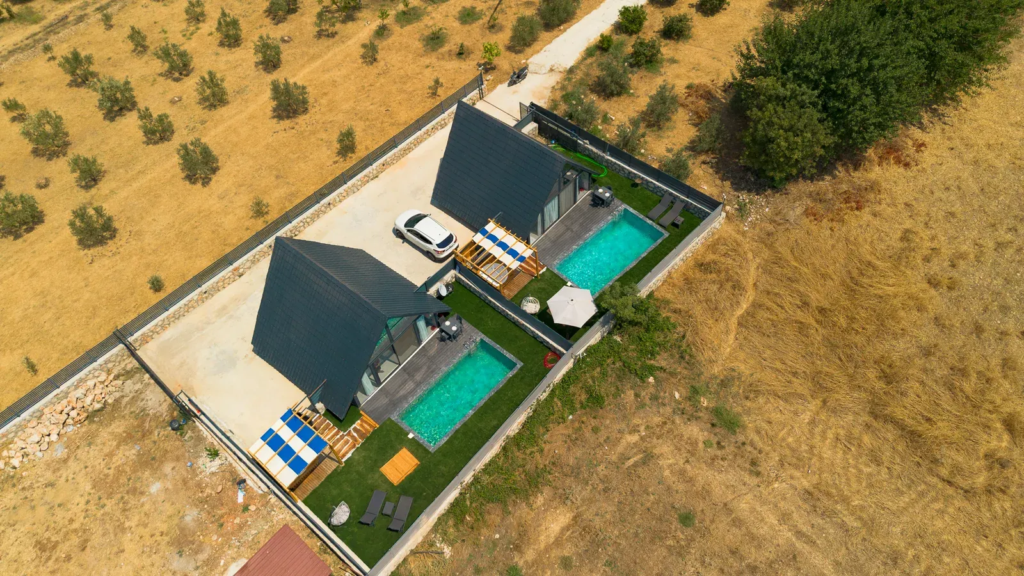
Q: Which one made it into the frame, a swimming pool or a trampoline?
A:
swimming pool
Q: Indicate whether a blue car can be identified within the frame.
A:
No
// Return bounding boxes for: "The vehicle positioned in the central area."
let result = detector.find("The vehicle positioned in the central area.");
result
[392,209,460,261]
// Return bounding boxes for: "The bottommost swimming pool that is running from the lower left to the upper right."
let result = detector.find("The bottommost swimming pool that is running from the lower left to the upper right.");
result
[388,332,525,455]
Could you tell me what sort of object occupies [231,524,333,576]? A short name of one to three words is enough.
shed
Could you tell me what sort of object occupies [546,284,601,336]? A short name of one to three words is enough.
umbrella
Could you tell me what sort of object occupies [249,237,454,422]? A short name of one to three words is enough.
building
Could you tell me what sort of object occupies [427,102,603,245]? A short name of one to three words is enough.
building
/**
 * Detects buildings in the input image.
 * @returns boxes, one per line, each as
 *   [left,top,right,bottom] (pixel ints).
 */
[427,102,603,245]
[249,237,454,422]
[231,524,333,576]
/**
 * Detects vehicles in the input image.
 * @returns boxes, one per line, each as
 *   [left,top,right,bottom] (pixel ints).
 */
[508,63,527,84]
[392,209,460,261]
